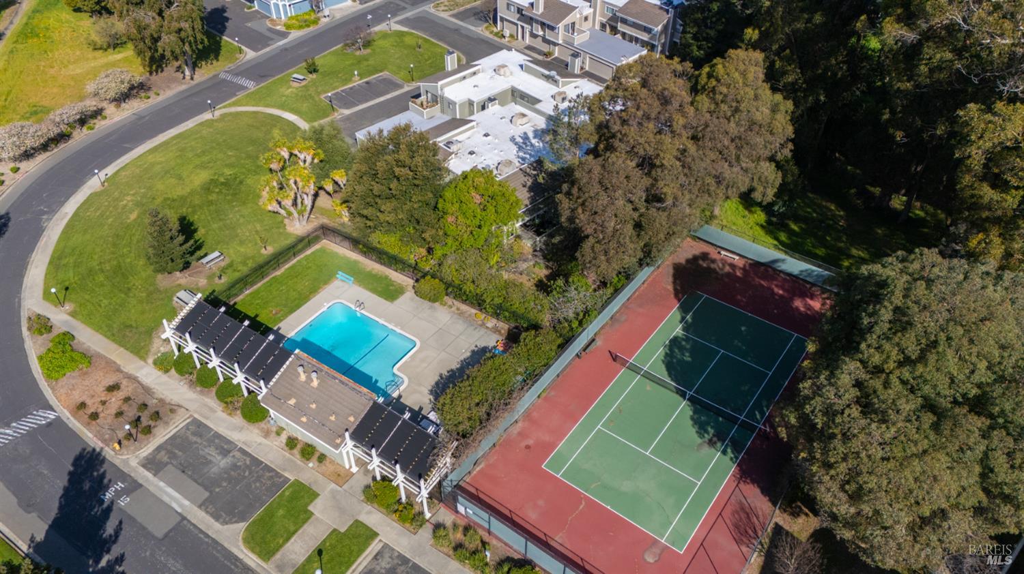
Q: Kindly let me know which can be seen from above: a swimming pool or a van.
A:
swimming pool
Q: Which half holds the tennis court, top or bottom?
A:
bottom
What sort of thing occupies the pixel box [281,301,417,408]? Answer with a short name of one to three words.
swimming pool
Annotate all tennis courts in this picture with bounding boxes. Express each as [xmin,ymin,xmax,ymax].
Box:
[450,242,867,574]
